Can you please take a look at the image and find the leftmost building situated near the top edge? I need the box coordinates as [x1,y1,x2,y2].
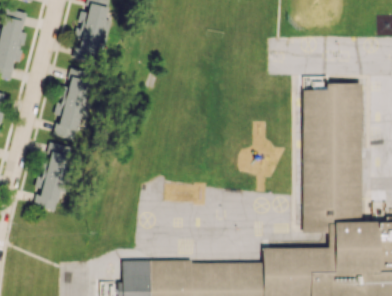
[0,10,28,81]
